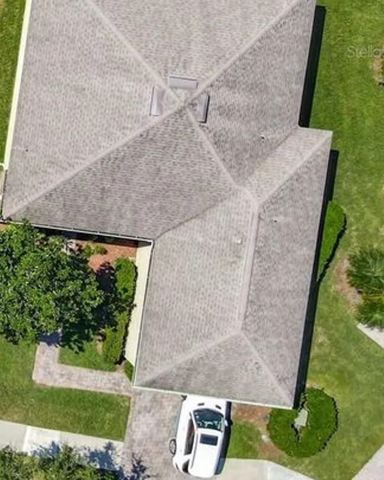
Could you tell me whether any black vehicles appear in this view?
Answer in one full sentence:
No, there isn't any black vehicle down there.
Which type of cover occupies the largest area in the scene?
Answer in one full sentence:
Most of the picture is covered by buildings.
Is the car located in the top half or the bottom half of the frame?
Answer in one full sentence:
The car sits in the bottom half of the picture.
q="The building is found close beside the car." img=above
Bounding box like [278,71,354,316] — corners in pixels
[0,0,334,412]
